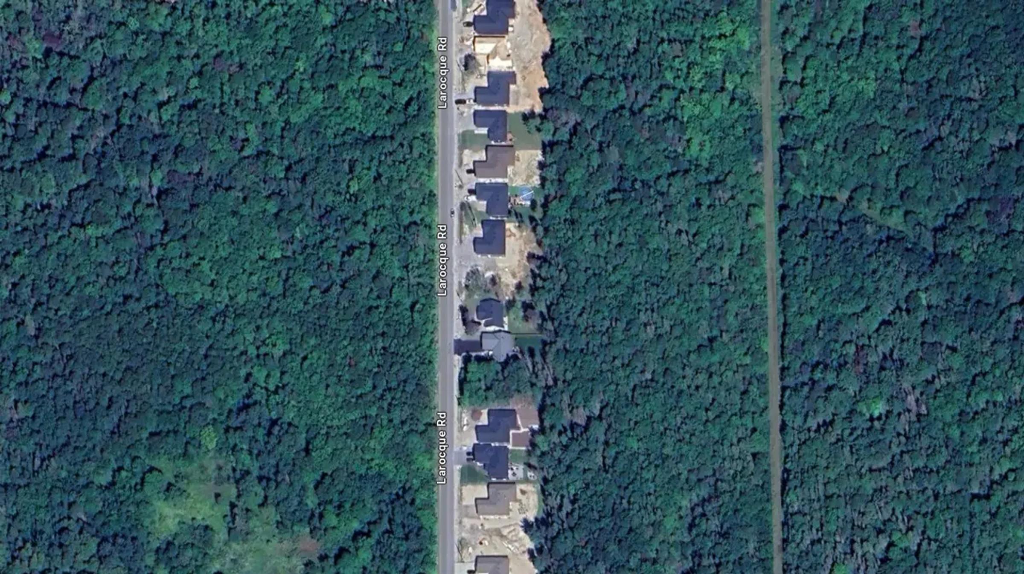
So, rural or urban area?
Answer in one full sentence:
From above, the setting appears rural.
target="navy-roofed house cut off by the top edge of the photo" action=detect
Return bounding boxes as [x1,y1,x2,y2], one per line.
[474,0,515,35]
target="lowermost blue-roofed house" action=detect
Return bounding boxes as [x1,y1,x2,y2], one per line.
[474,445,508,480]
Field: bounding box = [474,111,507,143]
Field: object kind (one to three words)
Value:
house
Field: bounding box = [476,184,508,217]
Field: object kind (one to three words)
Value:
house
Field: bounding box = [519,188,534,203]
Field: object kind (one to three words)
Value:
swimming pool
